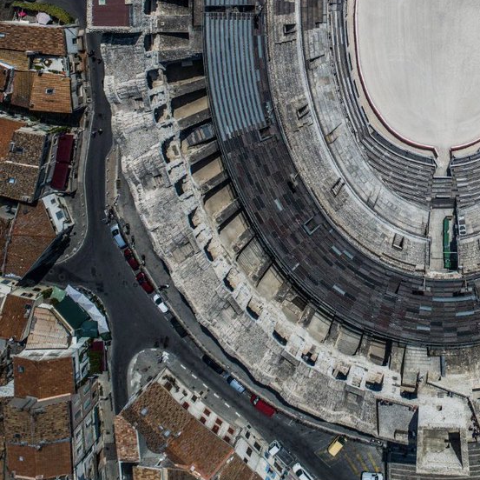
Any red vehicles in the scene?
Yes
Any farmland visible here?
No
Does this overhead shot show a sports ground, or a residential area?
residential area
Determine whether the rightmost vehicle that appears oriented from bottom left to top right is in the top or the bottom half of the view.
bottom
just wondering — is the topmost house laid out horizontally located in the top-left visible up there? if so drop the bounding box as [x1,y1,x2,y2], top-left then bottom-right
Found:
[0,23,84,56]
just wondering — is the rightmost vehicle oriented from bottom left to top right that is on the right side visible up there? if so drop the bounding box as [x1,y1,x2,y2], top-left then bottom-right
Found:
[326,431,350,463]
